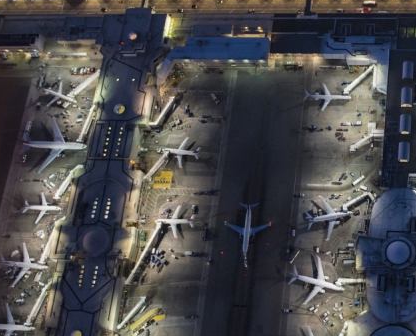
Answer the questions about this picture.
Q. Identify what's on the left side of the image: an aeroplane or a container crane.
aeroplane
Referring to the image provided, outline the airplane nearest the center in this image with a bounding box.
[163,135,199,169]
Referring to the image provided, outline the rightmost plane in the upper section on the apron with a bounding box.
[303,83,351,110]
